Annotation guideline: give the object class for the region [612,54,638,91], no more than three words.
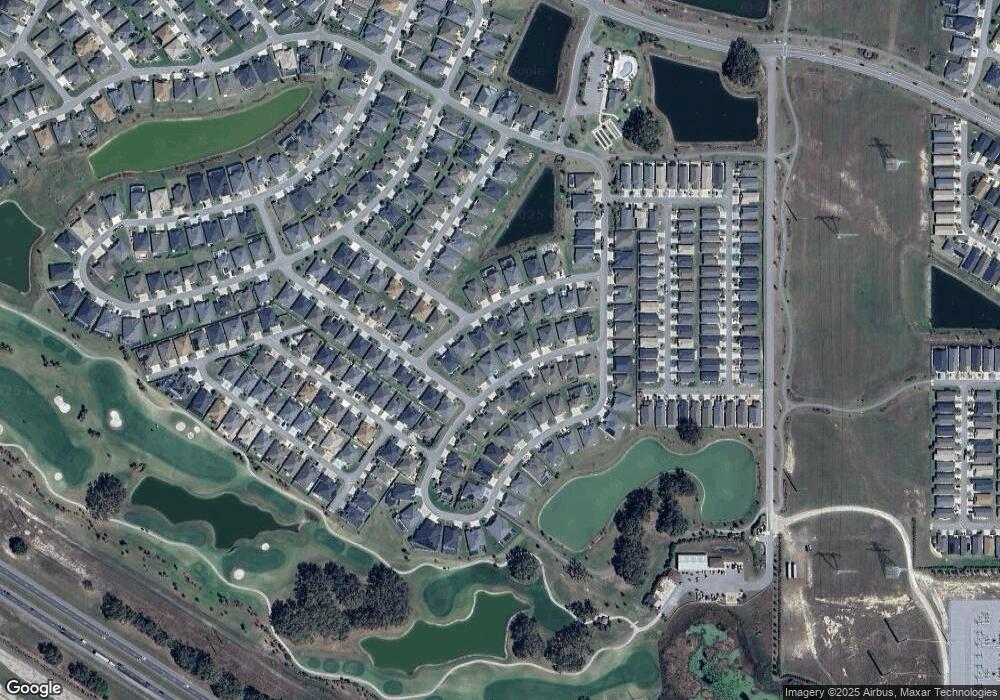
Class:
swimming pool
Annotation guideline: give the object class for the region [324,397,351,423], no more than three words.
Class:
house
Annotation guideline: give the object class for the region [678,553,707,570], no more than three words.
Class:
shed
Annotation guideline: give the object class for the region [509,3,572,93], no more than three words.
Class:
pond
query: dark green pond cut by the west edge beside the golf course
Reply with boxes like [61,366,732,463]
[0,199,45,294]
